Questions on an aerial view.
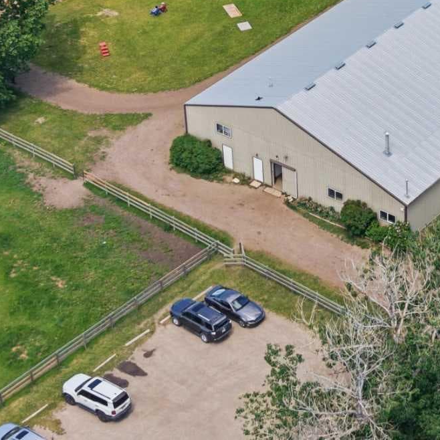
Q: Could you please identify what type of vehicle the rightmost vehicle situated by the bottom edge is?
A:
automobile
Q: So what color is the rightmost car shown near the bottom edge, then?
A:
white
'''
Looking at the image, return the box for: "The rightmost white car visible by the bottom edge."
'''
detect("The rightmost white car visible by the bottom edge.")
[59,378,132,426]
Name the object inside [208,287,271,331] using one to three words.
car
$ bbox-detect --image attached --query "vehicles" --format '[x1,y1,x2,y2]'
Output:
[208,287,271,331]
[166,300,233,344]
[59,378,132,426]
[0,422,49,440]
